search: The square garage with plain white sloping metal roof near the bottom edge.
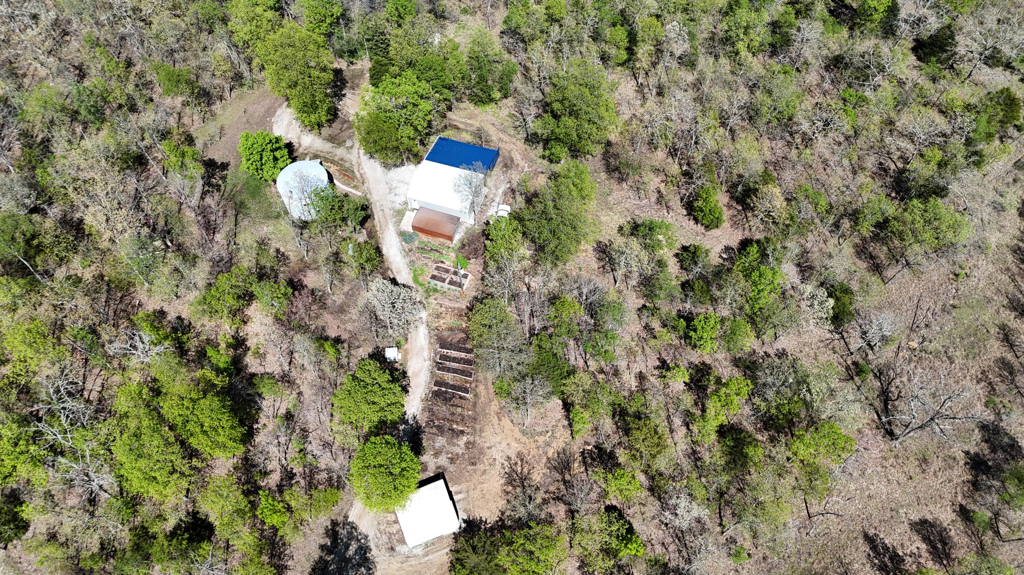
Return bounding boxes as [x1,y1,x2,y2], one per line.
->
[397,479,460,549]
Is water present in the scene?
No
